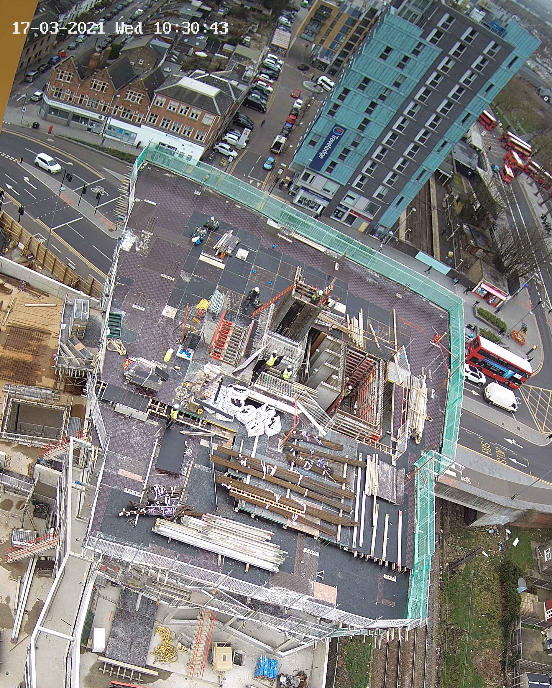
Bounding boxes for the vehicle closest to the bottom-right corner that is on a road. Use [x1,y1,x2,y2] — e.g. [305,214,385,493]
[483,381,522,413]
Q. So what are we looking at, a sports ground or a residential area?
residential area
